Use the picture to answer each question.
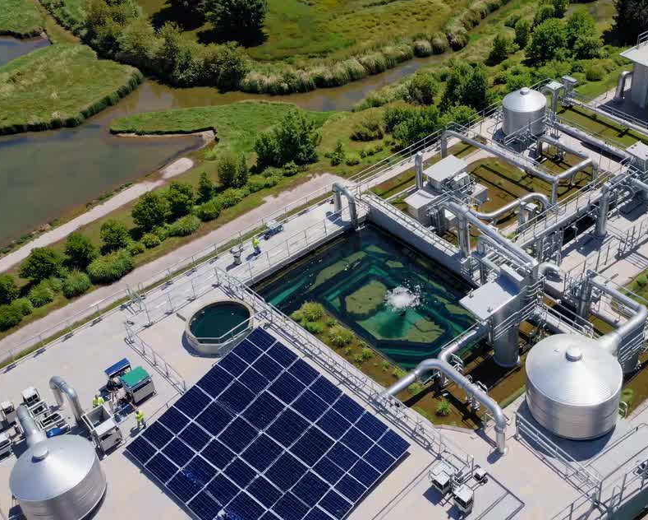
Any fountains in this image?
Yes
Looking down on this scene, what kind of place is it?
industrial area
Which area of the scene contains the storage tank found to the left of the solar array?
bottom left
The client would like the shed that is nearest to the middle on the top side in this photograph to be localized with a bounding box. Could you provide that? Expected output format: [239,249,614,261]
[404,190,436,224]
